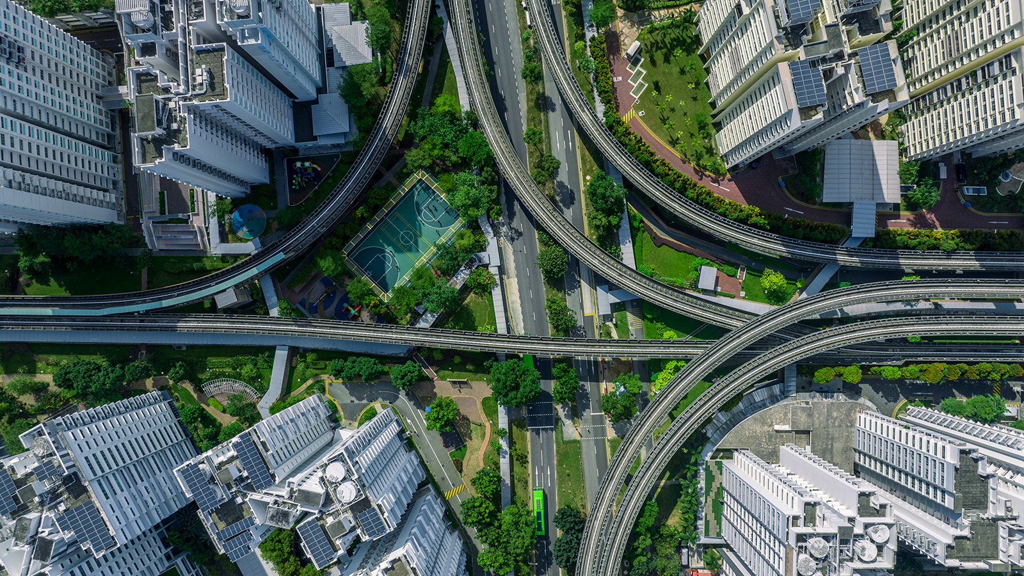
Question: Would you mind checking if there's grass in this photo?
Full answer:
Yes, grass shows up in the scene.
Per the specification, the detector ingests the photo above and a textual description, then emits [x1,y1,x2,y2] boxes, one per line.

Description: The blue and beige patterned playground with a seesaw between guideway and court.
[299,277,386,323]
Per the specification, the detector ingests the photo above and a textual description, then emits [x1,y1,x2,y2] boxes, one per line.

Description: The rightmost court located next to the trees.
[343,170,465,296]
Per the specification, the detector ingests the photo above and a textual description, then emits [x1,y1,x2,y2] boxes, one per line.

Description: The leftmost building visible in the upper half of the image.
[0,0,125,240]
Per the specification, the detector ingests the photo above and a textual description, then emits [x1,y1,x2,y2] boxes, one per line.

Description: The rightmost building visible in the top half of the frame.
[893,0,1024,161]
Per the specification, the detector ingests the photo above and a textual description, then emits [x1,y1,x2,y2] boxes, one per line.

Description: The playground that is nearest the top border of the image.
[286,153,341,206]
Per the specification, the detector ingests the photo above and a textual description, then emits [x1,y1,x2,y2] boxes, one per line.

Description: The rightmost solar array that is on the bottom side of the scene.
[357,507,386,537]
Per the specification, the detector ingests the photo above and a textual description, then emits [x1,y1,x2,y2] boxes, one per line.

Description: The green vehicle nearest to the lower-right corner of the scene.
[532,484,545,535]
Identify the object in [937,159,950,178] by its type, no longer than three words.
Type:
vehicle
